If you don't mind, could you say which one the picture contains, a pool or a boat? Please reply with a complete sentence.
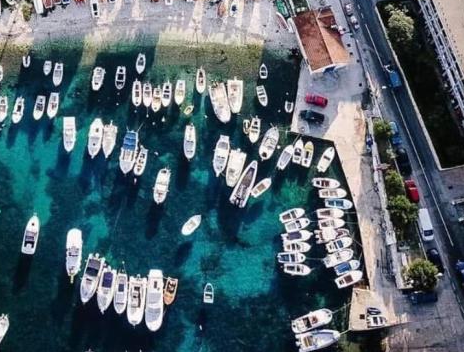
It is a boat that can be seen here.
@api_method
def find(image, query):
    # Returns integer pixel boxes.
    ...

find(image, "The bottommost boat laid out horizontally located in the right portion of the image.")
[292,330,339,352]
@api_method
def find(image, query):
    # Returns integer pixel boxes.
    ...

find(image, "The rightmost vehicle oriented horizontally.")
[409,288,439,303]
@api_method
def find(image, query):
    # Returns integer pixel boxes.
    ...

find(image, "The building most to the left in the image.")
[291,7,349,77]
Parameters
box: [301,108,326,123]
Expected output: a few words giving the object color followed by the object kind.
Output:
black car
